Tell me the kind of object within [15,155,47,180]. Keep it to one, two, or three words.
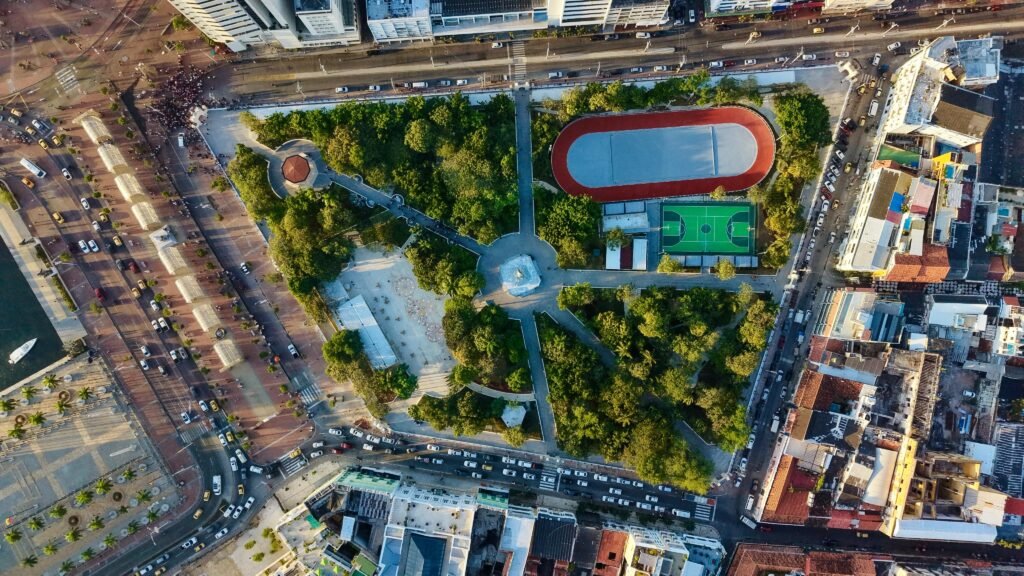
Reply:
bus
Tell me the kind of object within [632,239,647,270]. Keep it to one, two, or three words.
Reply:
shed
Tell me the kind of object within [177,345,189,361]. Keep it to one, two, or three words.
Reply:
vehicle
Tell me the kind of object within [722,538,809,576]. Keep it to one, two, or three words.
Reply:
building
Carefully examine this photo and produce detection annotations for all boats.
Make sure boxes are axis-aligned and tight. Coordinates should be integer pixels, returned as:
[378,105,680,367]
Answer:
[7,339,38,363]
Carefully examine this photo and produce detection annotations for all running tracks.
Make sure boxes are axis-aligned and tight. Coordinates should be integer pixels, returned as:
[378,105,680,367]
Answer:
[552,104,777,203]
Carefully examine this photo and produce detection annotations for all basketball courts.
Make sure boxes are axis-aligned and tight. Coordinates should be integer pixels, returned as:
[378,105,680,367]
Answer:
[660,202,757,257]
